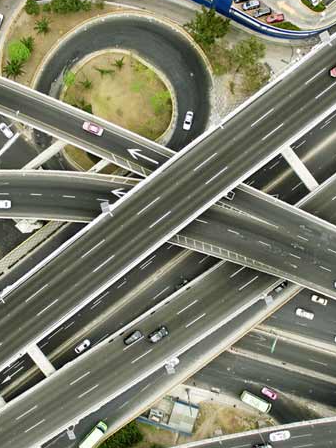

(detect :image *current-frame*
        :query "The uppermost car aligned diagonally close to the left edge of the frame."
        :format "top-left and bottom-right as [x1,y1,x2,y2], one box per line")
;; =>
[0,122,14,140]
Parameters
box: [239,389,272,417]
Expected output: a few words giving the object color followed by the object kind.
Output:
white bus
